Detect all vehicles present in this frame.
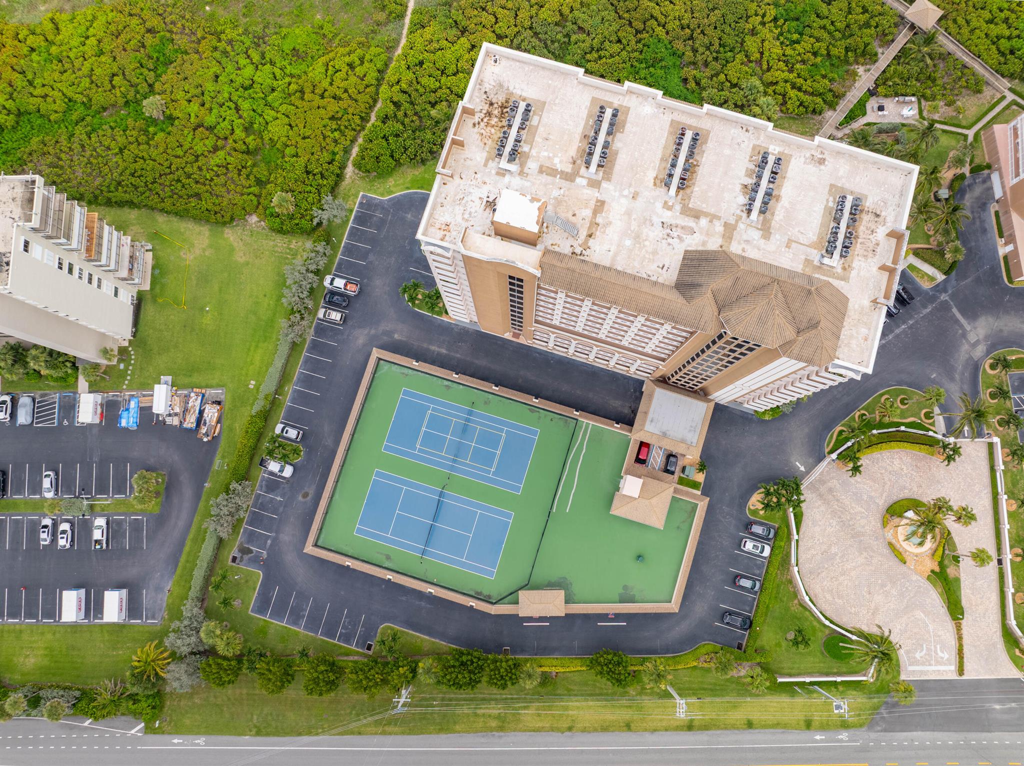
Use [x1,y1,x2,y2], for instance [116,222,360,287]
[732,574,762,592]
[39,516,56,546]
[661,449,679,476]
[897,283,924,312]
[889,303,908,322]
[0,393,15,423]
[257,456,295,477]
[322,291,352,308]
[40,469,58,499]
[720,611,752,630]
[317,308,346,325]
[745,521,776,539]
[324,276,360,295]
[91,515,110,553]
[739,538,771,557]
[0,469,9,499]
[884,319,897,336]
[275,424,304,441]
[634,440,652,467]
[57,521,74,551]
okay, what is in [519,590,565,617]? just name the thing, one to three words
building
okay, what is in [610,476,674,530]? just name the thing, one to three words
shed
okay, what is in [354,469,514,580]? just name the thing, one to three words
tennis court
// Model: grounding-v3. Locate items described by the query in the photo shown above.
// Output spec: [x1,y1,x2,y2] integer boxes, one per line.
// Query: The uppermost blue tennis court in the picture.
[382,388,540,495]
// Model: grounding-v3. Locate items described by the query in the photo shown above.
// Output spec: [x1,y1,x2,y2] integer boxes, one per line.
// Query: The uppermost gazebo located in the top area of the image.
[904,0,950,30]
